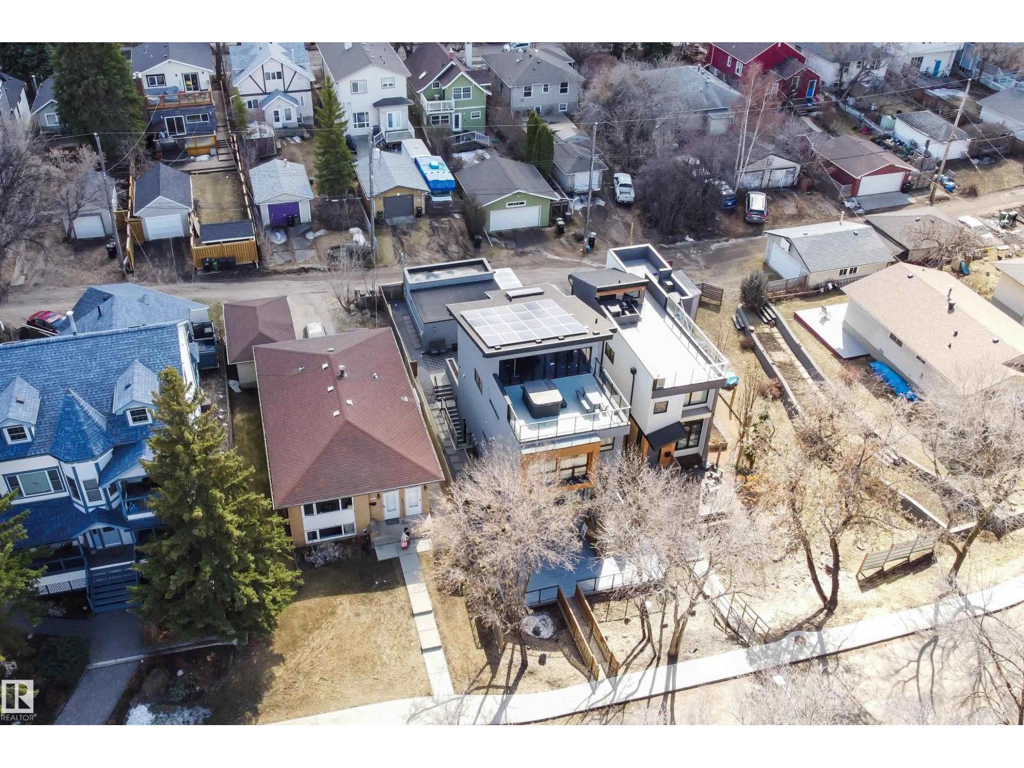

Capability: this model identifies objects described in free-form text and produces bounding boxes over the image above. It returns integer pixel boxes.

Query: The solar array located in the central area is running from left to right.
[460,297,589,345]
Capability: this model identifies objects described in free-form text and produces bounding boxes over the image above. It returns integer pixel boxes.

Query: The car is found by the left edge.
[15,297,50,335]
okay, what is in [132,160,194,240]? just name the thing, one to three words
building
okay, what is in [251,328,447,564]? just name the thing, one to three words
house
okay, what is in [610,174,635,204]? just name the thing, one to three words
truck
